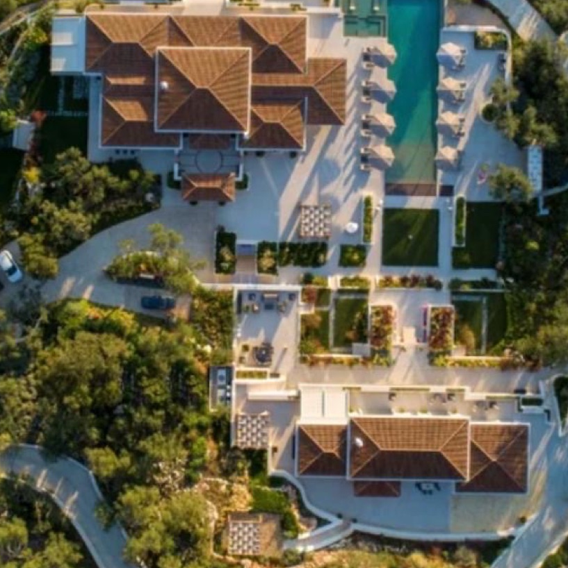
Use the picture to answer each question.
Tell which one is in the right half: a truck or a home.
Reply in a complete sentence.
The feature located in the right half is a home.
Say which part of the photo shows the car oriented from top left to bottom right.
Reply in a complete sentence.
Look in the left portion of the view to spot the car oriented from top left to bottom right.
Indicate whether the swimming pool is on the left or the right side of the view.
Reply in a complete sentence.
You can find the swimming pool on the right side of the picture.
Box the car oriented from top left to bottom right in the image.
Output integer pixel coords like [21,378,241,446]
[0,249,23,281]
